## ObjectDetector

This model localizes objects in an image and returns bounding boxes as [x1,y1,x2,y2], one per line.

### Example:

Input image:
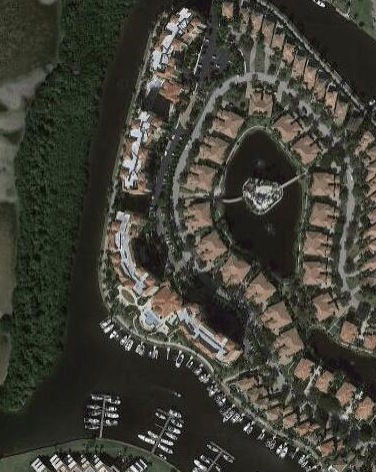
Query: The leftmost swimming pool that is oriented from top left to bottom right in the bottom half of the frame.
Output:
[120,287,173,335]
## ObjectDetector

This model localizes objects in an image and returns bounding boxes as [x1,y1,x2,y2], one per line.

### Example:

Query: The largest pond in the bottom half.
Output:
[137,236,246,349]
